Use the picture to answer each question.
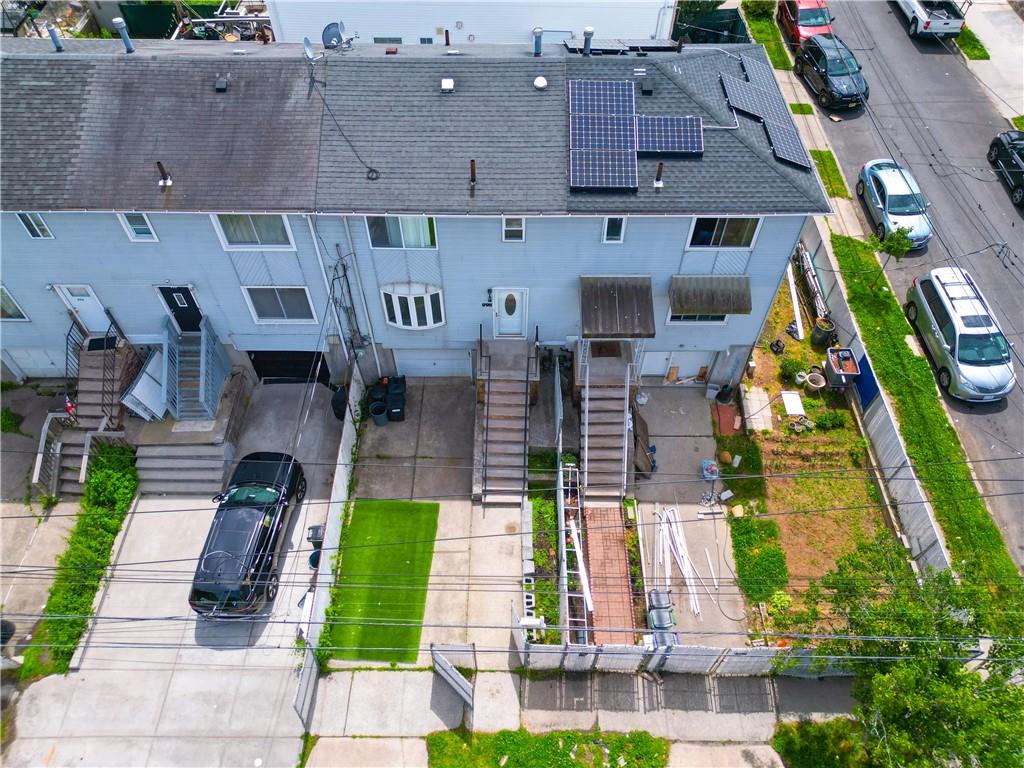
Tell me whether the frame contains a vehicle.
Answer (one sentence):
Yes, the image includes a vehicle.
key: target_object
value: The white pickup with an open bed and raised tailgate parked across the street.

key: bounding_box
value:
[885,0,961,36]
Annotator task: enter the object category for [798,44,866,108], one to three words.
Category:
car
